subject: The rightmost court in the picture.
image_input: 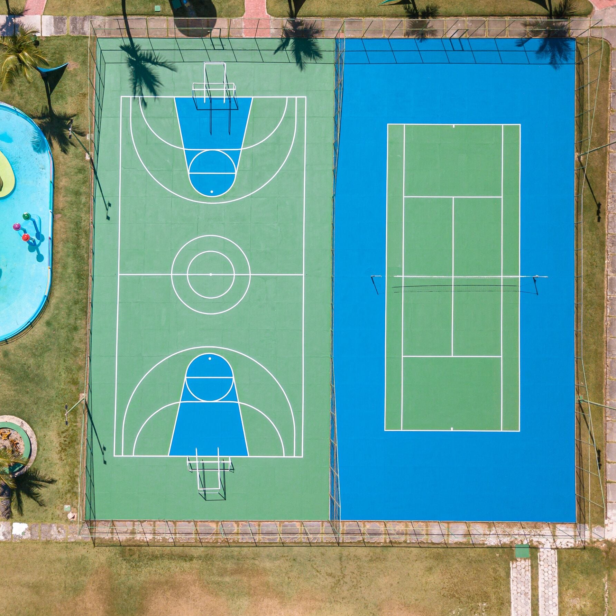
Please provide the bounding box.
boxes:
[330,38,576,523]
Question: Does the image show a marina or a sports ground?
sports ground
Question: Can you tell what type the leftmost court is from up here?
basketball court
